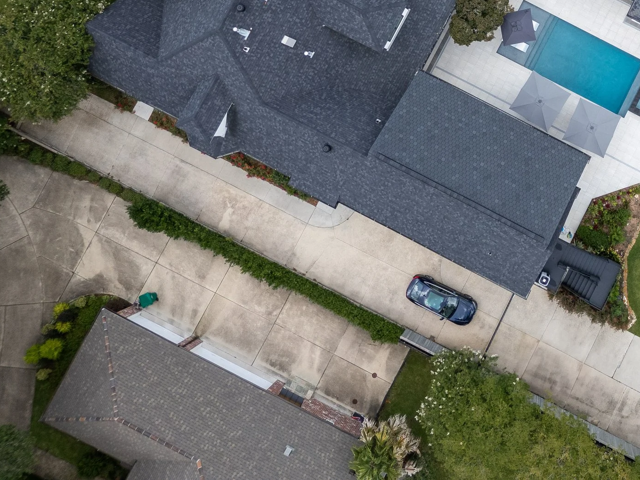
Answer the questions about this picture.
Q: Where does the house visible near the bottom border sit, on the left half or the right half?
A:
left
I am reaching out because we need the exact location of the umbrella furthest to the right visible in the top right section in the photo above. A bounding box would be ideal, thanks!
[564,99,622,157]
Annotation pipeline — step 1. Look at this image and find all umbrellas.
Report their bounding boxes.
[503,9,537,47]
[510,71,570,133]
[564,99,622,157]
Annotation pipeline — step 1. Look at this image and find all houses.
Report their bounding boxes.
[86,0,640,299]
[39,305,365,480]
